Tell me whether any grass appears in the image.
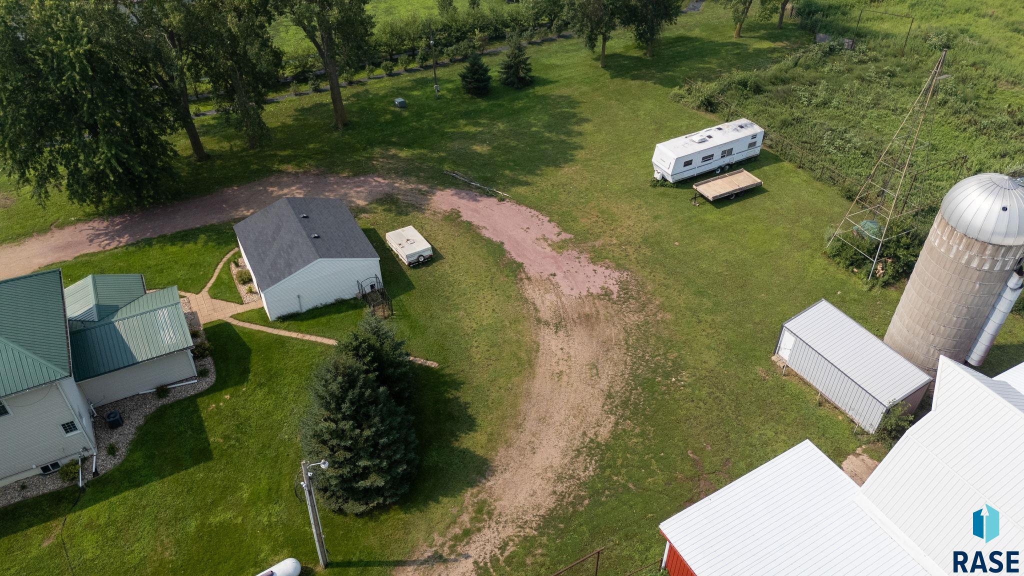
Yes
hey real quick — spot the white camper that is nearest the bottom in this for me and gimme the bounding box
[387,227,433,268]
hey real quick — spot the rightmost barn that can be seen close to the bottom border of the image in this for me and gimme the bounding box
[658,354,1024,576]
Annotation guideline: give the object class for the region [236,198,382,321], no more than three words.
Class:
building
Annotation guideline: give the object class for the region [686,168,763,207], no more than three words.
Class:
trailer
